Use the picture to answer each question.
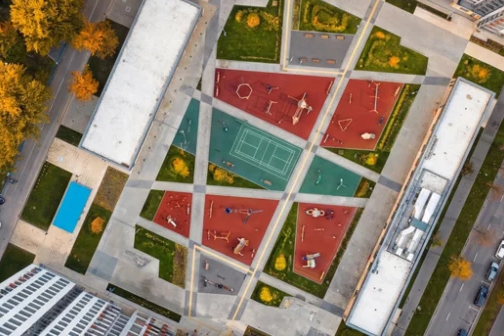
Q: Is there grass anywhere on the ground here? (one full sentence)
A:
Yes, grass shows up in the scene.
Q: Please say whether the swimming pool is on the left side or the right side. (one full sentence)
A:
The swimming pool sits on the left side.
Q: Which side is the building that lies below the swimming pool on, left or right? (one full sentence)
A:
It is on the left.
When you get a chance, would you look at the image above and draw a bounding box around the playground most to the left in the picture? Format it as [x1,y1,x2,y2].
[153,191,192,238]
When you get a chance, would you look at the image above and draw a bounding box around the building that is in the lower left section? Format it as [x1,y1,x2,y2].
[0,263,180,336]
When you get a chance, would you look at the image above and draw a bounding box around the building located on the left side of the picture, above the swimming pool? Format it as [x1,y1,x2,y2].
[78,0,201,170]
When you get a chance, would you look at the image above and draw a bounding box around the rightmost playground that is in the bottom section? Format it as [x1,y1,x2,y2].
[293,203,356,284]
